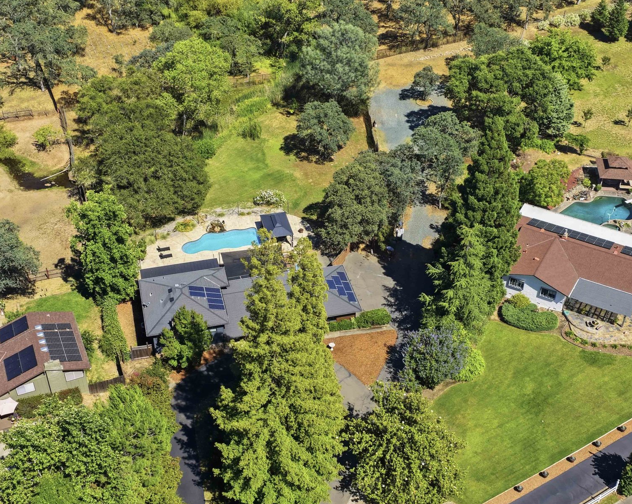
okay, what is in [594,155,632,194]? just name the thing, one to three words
gazebo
